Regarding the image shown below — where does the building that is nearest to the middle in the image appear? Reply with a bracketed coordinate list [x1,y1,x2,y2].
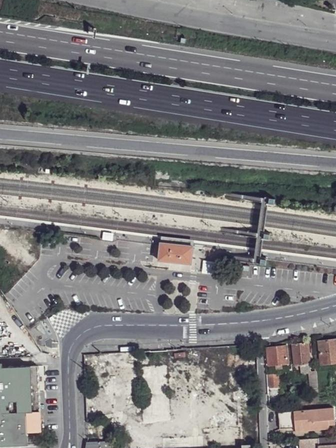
[157,243,192,266]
